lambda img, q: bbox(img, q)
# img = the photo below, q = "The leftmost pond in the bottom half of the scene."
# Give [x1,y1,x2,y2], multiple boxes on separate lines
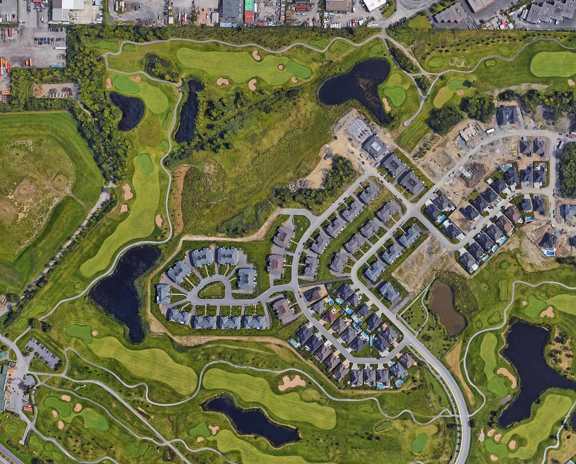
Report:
[89,245,160,343]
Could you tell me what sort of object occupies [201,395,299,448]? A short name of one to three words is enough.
pond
